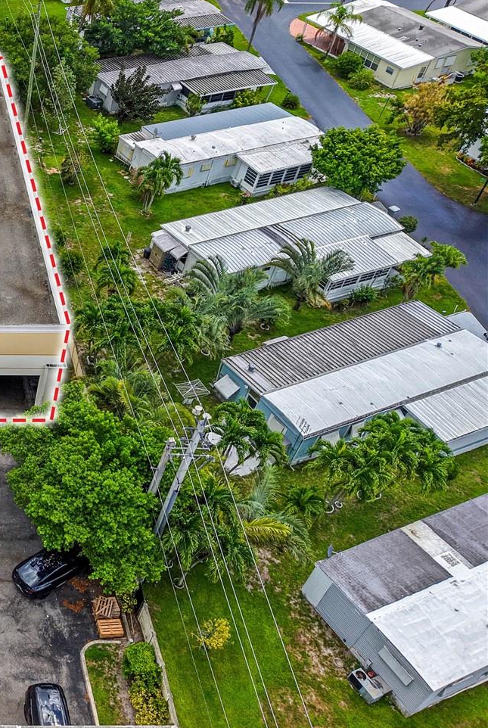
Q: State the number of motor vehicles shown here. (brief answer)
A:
2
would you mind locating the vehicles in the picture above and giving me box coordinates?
[11,532,87,597]
[21,682,70,726]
